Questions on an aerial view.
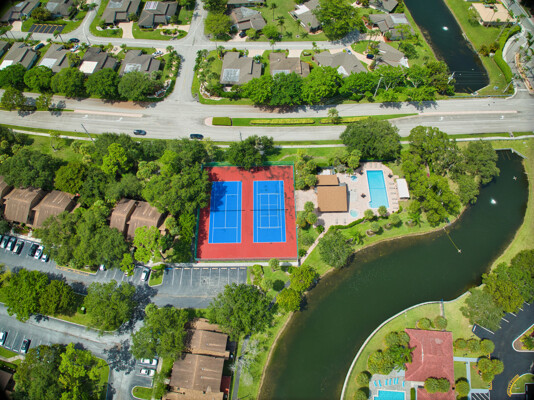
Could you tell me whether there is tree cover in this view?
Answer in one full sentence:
Yes, there's tree cover in this view.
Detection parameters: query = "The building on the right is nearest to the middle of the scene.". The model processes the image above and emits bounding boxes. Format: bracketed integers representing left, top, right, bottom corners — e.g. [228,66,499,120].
[316,175,348,214]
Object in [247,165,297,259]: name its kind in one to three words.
tennis court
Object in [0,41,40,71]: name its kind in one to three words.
house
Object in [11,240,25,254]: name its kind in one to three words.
vehicle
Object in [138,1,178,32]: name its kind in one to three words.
house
